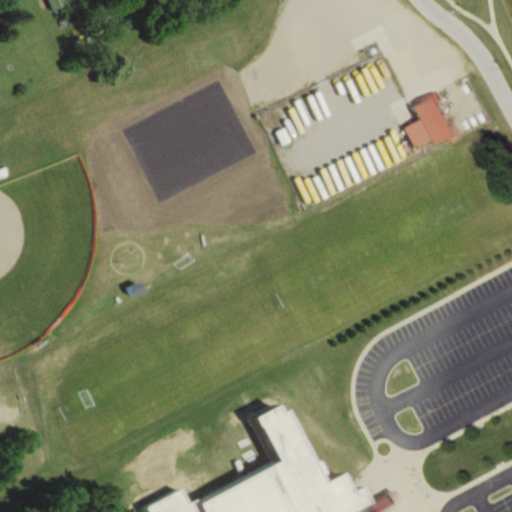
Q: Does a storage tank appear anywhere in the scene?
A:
No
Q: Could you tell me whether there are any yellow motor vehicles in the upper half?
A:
Yes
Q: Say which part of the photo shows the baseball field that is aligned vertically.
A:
left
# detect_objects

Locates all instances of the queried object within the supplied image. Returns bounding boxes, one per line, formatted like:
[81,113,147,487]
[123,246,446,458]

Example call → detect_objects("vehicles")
[376,140,394,168]
[398,144,408,160]
[284,118,298,139]
[468,114,478,128]
[352,152,370,181]
[460,79,470,94]
[461,118,470,131]
[295,98,312,127]
[368,144,386,172]
[346,156,362,184]
[441,93,450,104]
[294,176,312,206]
[331,78,346,98]
[338,159,354,188]
[476,110,486,124]
[374,58,389,80]
[342,74,361,106]
[304,177,322,205]
[360,148,378,176]
[364,62,384,90]
[314,174,330,202]
[316,90,331,118]
[390,130,401,145]
[288,108,304,136]
[329,164,346,193]
[359,64,378,96]
[385,136,402,164]
[321,168,338,196]
[350,69,370,99]
[308,94,324,122]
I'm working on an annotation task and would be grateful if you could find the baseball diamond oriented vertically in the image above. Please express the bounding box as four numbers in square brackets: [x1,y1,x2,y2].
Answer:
[0,156,94,358]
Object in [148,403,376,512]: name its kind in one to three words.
building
